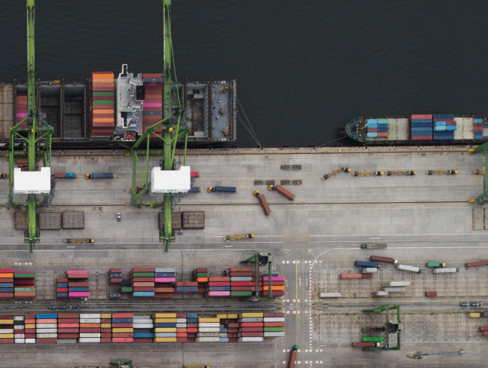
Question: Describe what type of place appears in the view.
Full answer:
The area seen from above is a port.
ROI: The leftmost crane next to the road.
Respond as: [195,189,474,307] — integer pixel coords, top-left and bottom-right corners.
[0,0,57,255]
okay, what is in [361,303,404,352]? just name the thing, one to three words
container crane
